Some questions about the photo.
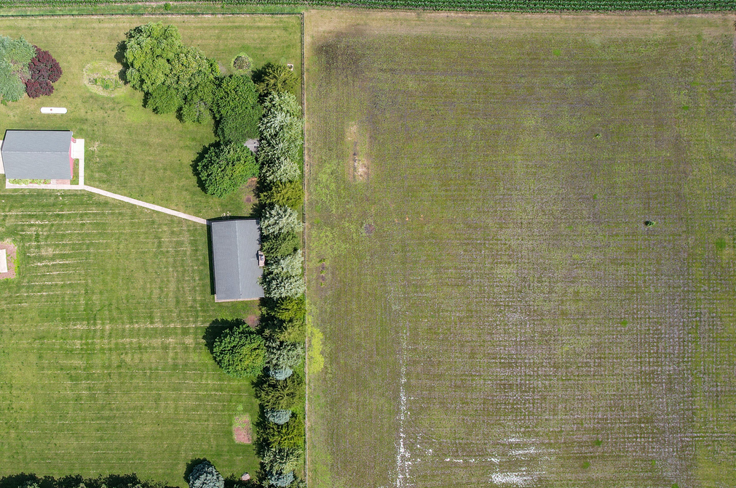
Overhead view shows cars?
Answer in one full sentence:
No, there's no car here.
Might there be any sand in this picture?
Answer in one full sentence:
No, sand can't be seen anywhere here.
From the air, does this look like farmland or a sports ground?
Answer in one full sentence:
It's farmland.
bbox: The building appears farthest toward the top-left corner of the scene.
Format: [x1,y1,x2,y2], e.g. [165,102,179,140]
[1,130,74,180]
